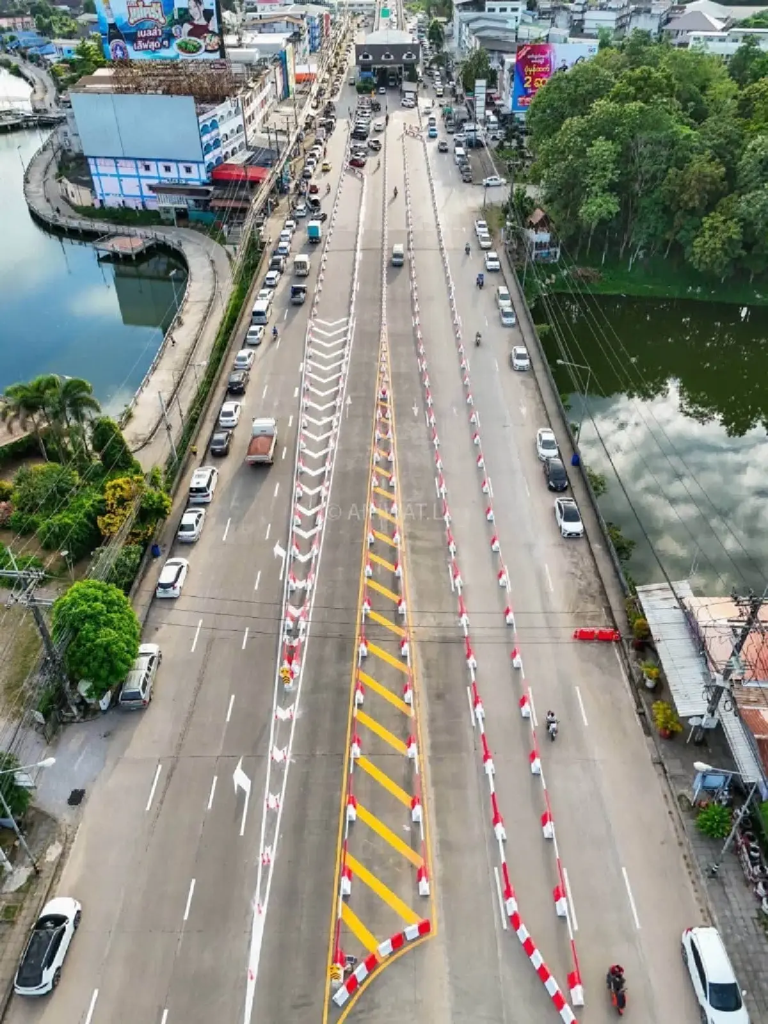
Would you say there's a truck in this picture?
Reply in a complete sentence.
Yes, there's a truck down there.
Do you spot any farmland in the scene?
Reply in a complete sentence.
No, the scene doesn't show any farmland.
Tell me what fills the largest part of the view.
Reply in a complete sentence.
The bulk of the photo consists of paved ground.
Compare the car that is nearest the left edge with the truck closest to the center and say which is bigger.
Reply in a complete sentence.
The car covers a greater area than the truck.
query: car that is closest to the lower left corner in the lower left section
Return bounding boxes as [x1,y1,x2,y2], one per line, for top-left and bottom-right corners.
[10,895,82,1002]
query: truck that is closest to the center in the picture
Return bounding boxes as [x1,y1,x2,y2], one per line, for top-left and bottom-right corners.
[245,414,277,460]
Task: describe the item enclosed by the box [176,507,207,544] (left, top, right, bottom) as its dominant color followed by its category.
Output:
white car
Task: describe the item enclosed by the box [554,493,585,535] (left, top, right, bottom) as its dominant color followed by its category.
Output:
white car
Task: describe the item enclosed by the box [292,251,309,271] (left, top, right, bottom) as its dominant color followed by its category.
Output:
white vehicle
